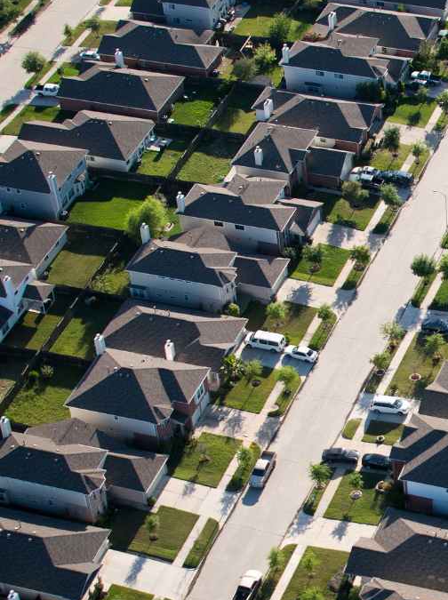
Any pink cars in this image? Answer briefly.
No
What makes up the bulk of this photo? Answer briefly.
buildings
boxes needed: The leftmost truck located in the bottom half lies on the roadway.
[228,568,261,600]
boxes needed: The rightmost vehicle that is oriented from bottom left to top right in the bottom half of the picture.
[248,446,278,482]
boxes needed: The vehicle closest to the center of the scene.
[245,327,289,350]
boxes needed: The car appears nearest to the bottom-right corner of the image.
[360,449,396,468]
